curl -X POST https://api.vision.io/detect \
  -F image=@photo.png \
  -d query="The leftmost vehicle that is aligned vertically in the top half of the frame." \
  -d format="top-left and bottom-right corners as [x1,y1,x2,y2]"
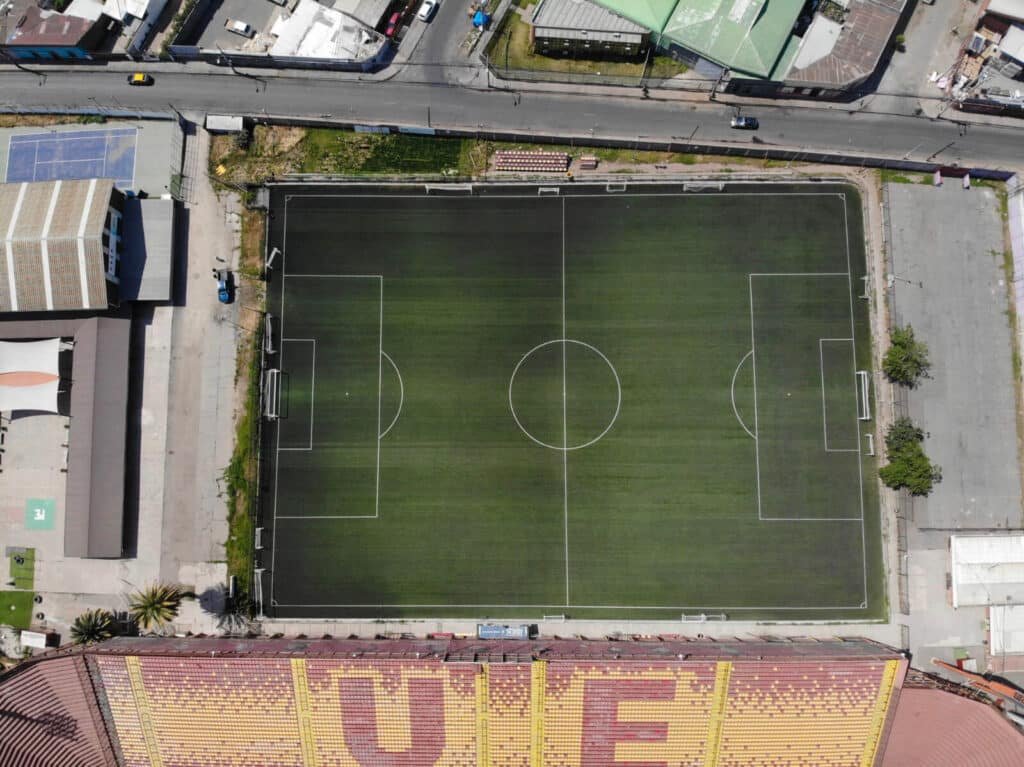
[216,269,231,301]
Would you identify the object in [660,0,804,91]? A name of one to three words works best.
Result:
building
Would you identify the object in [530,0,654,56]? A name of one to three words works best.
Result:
building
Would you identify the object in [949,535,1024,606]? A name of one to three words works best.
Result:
shed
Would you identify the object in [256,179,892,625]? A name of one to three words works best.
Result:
soccer field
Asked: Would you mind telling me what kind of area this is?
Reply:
sports ground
